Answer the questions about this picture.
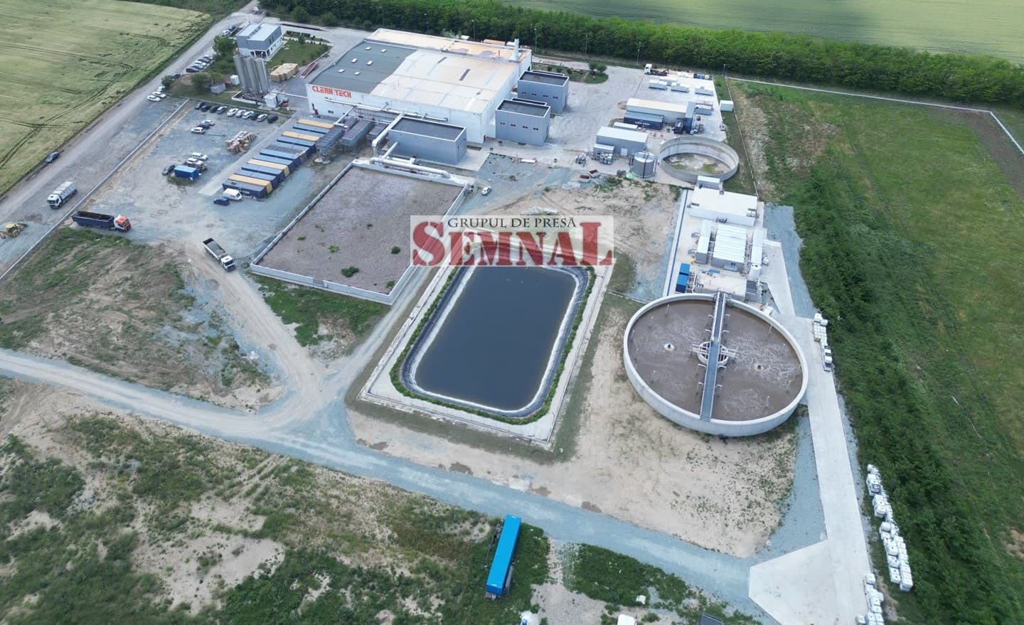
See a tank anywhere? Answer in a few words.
Yes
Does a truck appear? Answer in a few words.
Yes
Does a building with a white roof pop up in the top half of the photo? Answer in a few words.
Yes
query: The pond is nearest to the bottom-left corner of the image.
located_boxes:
[392,238,594,421]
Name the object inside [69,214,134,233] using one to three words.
vehicle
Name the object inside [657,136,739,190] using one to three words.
storage tank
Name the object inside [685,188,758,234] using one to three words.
building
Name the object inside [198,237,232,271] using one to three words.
truck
